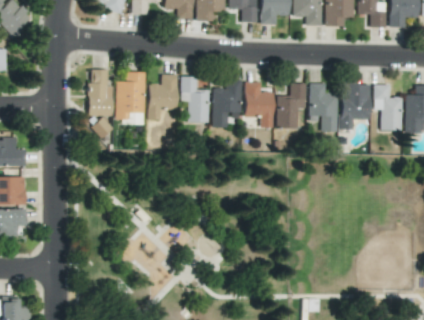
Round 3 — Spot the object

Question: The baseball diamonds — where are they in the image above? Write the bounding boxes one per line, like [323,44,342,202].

[358,230,412,290]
